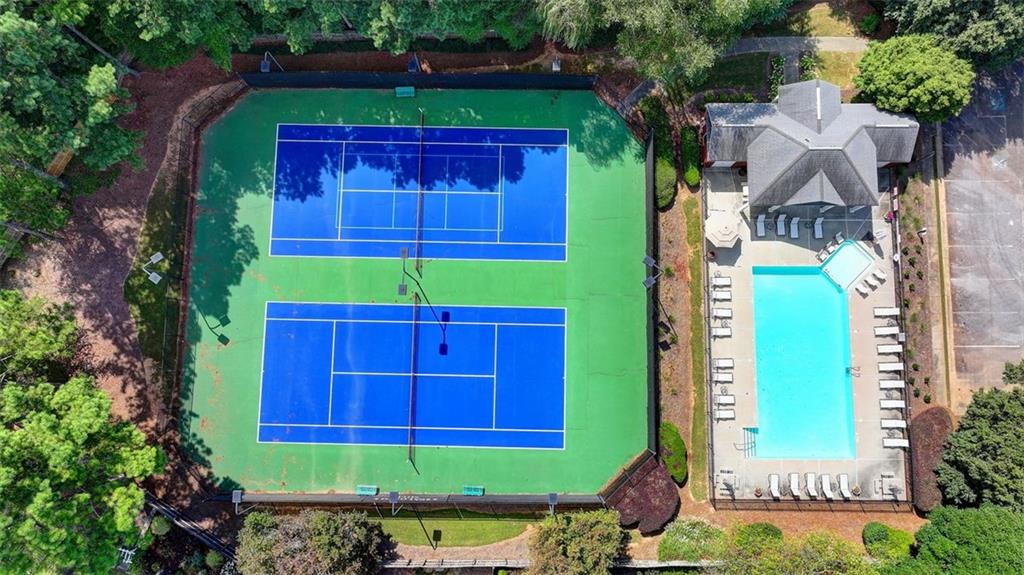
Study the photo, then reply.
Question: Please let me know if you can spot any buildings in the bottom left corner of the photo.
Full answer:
No, I see no building in the bottom left corner of the photo.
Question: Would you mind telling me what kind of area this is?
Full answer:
The picture captures a sports ground.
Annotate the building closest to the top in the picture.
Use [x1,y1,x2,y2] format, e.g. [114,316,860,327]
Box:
[703,79,918,216]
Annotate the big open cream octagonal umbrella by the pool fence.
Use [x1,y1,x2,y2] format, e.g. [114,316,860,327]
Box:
[705,213,740,247]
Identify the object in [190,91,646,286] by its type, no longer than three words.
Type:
tennis court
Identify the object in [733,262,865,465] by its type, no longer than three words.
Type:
swimming pool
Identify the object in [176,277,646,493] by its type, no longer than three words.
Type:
tennis court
